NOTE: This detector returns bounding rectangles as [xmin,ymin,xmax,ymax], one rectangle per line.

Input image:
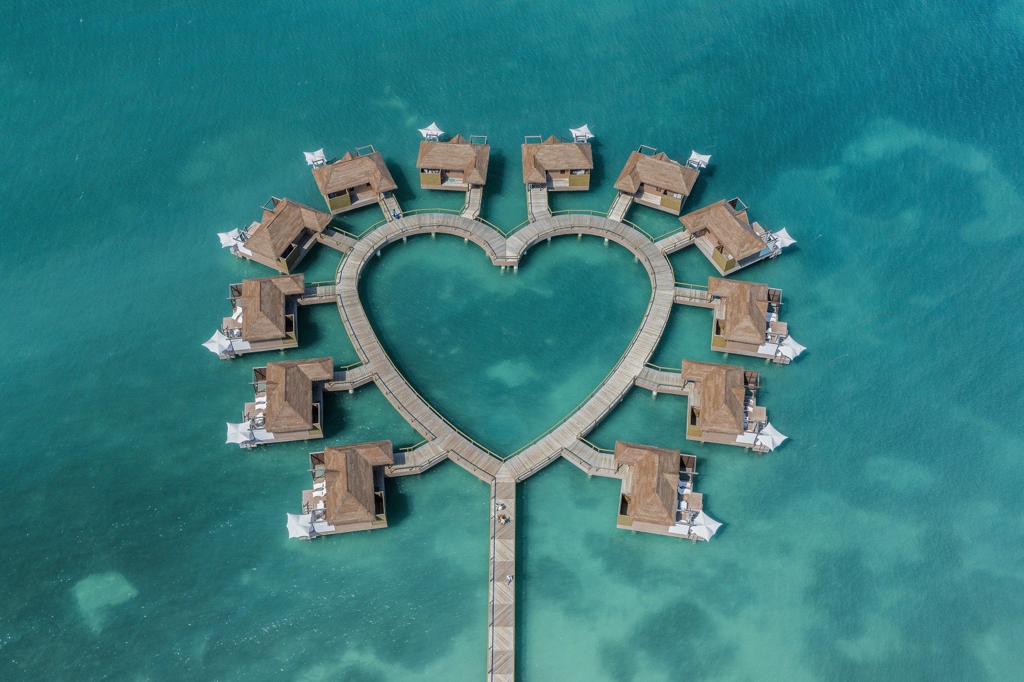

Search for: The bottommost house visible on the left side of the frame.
[300,438,394,543]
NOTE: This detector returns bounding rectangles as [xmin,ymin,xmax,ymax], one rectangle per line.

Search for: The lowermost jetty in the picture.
[485,479,516,682]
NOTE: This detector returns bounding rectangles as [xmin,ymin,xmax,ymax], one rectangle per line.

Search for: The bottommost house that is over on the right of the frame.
[613,440,705,546]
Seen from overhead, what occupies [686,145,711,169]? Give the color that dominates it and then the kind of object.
white umbrella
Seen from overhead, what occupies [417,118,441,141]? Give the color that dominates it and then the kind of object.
white umbrella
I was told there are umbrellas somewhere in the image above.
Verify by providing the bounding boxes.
[417,118,441,141]
[686,145,711,169]
[769,223,797,248]
[217,227,238,251]
[685,508,723,544]
[778,332,810,361]
[202,329,233,356]
[301,144,327,168]
[569,121,593,142]
[760,422,790,450]
[284,510,313,540]
[226,420,248,447]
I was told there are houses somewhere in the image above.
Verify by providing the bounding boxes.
[233,194,335,274]
[416,130,489,197]
[616,144,698,216]
[613,440,705,546]
[221,272,307,361]
[706,275,789,366]
[300,438,394,543]
[677,194,778,276]
[241,356,332,452]
[314,144,394,215]
[679,358,768,456]
[521,131,593,197]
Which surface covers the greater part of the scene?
water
